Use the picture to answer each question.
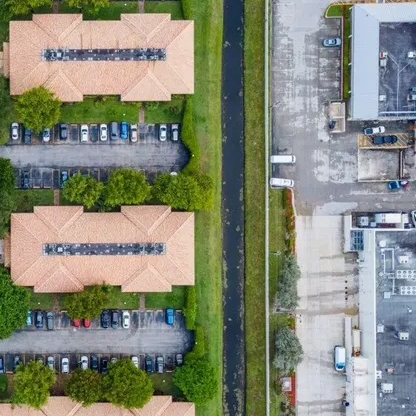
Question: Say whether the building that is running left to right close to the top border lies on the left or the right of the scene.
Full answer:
It is on the left.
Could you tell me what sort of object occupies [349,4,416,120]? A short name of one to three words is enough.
building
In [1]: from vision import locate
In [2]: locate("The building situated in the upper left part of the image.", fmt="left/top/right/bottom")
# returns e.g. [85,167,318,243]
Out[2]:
[3,13,194,103]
